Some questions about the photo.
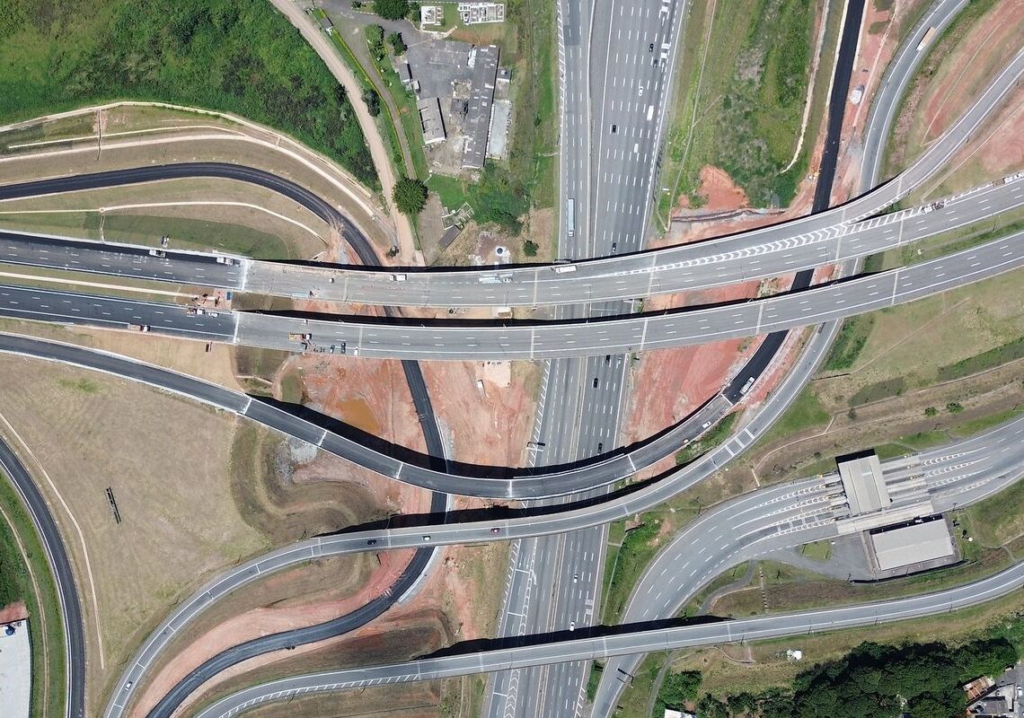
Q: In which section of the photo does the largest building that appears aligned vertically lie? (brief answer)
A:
top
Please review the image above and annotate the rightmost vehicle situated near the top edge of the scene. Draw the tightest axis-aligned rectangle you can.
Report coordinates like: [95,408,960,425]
[916,22,937,49]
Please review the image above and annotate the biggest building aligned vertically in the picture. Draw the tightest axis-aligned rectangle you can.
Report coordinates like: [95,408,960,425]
[462,41,500,170]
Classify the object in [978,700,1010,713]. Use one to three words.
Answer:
house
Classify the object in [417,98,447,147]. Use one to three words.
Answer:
building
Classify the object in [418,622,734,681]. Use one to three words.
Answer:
overpass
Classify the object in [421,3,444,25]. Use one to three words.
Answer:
house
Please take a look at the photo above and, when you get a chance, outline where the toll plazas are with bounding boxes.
[820,453,924,521]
